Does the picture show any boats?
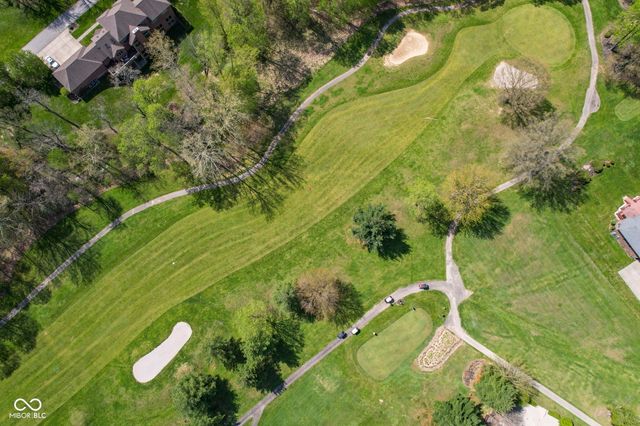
No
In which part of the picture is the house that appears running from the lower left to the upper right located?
top left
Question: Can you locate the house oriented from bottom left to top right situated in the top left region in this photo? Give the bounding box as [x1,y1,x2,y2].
[54,0,179,92]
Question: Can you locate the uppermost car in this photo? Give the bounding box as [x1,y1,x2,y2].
[42,54,59,69]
